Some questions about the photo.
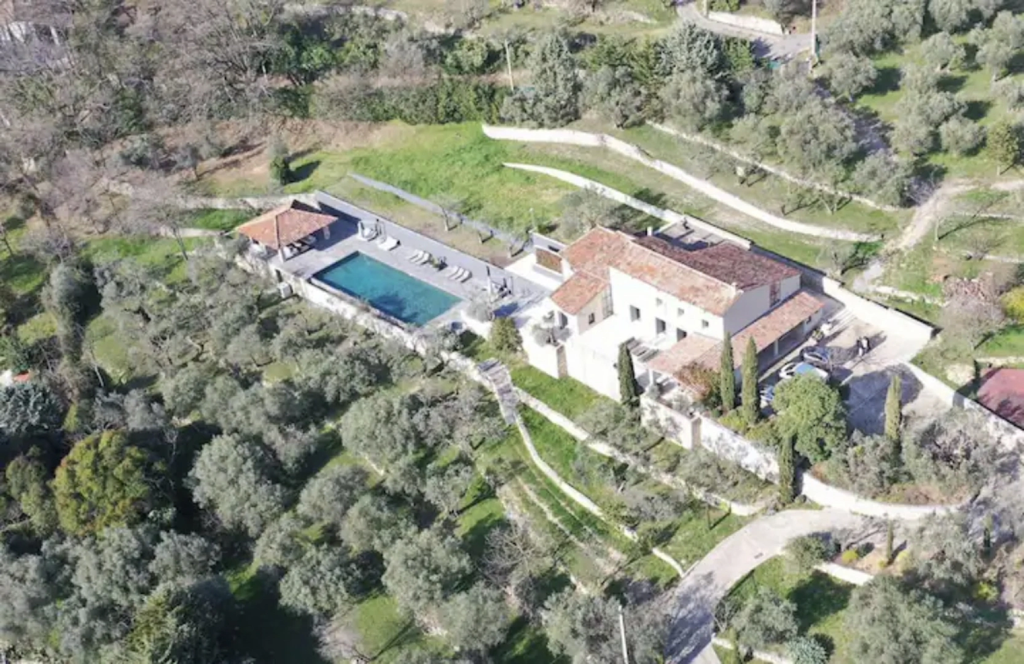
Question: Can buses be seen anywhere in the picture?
No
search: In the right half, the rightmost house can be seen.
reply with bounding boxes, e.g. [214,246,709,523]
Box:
[551,224,824,410]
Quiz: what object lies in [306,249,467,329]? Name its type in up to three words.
swimming pool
